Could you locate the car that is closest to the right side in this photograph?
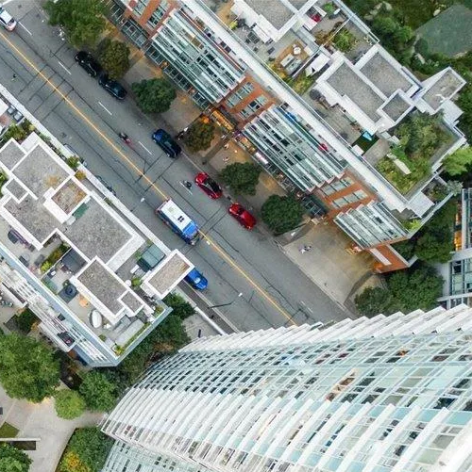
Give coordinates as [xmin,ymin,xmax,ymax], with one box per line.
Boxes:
[228,201,256,230]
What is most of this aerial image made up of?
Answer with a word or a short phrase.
buildings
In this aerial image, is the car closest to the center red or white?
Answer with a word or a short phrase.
red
